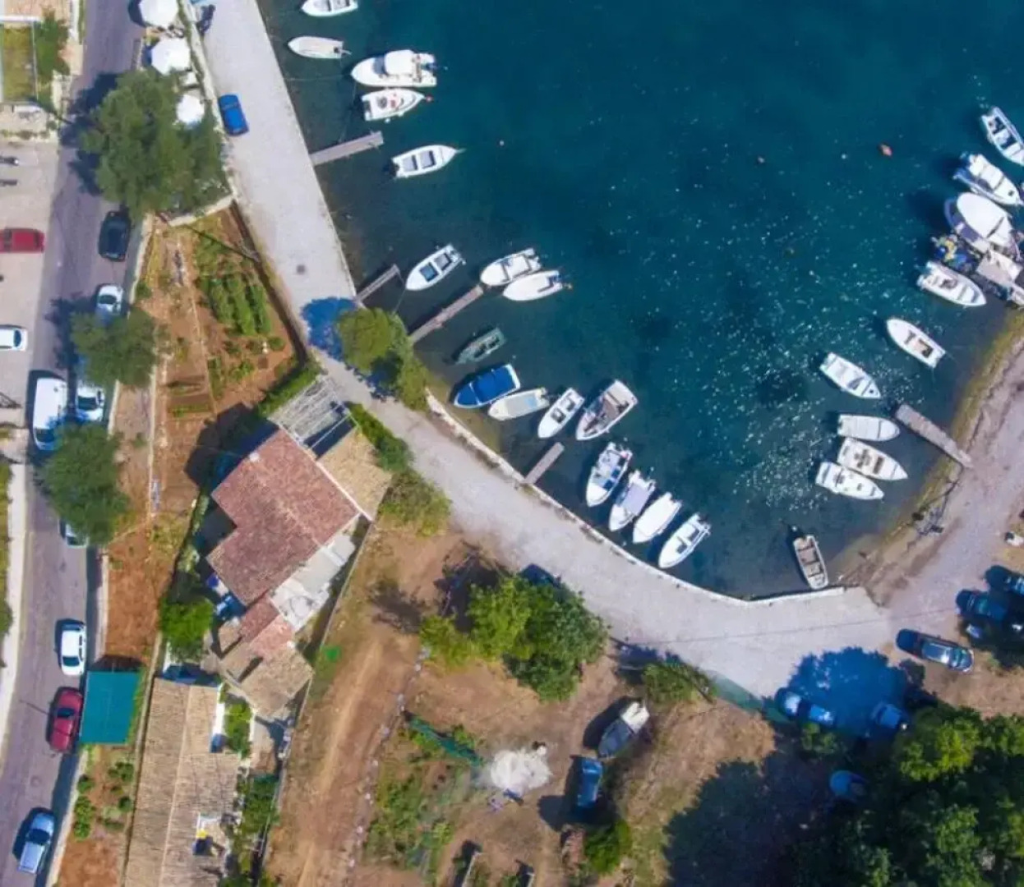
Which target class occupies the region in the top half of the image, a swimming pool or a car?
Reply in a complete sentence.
The one visible in the top half of the image is a car.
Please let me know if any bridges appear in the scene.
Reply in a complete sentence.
No, there is no bridge in the image.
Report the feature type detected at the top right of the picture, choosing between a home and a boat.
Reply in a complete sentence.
Visible at the top right of the picture is a boat.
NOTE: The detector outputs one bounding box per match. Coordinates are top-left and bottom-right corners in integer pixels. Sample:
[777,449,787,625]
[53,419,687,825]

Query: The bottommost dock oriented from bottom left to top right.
[520,442,567,488]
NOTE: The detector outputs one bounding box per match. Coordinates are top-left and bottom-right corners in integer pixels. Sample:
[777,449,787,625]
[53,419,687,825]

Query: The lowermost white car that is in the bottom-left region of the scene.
[58,620,90,675]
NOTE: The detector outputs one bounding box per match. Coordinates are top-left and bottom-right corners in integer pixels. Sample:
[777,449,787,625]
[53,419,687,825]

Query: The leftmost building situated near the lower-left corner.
[123,674,239,887]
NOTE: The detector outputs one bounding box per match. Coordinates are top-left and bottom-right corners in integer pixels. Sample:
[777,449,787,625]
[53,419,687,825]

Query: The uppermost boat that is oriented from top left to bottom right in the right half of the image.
[971,98,1024,166]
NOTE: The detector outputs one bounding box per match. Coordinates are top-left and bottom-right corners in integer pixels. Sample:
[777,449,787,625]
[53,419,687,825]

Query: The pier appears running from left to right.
[308,129,385,163]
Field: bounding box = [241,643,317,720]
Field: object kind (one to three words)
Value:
shed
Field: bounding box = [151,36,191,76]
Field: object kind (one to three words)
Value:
umbrella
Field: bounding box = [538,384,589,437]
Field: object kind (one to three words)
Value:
boat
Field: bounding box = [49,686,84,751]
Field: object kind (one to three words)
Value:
car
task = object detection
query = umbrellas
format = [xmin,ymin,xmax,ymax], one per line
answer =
[177,96,207,126]
[138,0,180,28]
[151,36,191,76]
